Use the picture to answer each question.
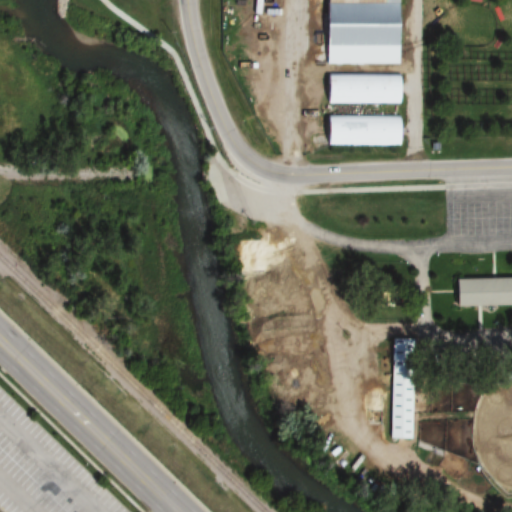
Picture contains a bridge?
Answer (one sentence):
No, I can't see a single bridge in this photo.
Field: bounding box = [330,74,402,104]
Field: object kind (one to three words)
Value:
shed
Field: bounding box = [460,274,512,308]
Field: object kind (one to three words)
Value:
house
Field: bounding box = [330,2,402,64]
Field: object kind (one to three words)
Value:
barn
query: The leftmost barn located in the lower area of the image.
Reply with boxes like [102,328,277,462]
[392,339,414,440]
